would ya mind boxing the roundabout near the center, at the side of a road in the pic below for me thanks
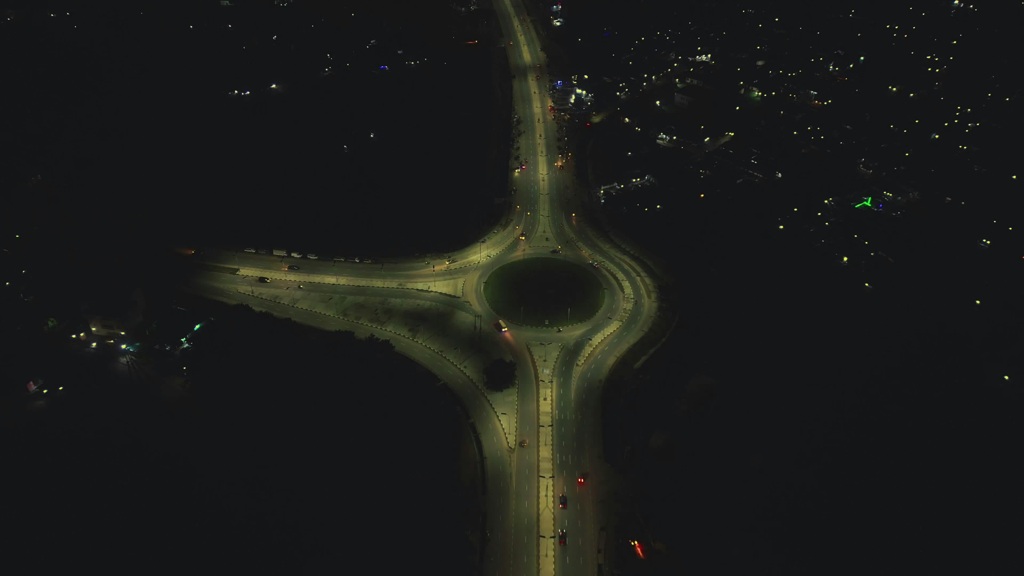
[459,245,626,343]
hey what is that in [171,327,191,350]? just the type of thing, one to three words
house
